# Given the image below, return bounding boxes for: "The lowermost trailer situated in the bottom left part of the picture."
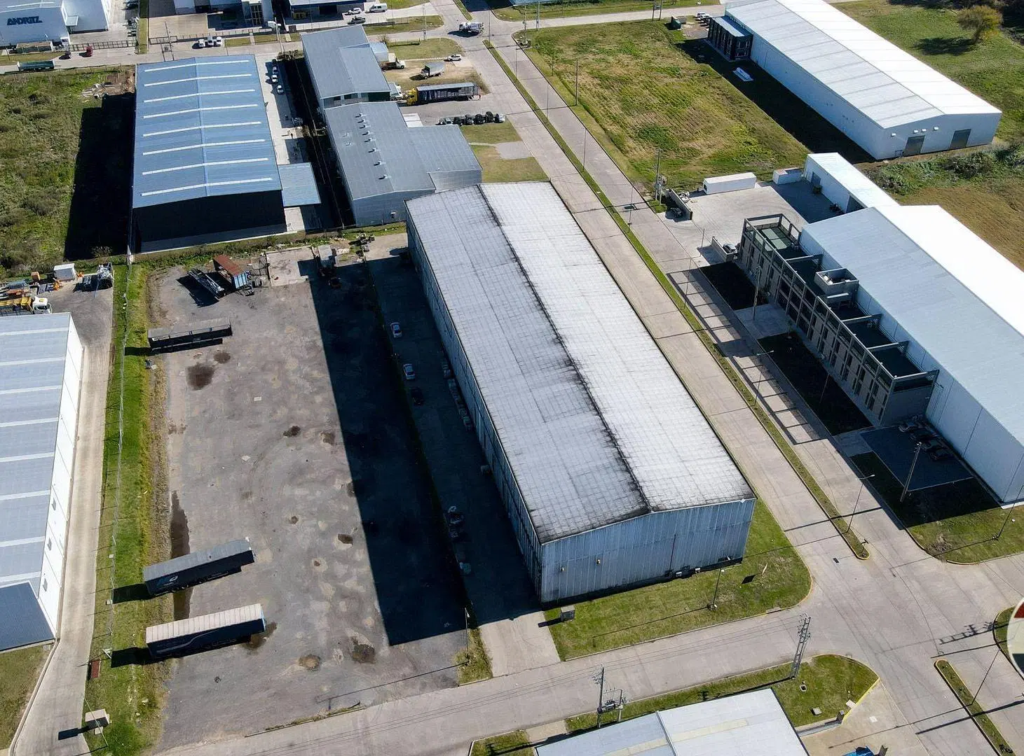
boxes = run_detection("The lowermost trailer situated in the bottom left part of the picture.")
[145,604,268,662]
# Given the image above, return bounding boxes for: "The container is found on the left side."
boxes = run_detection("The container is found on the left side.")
[215,261,248,292]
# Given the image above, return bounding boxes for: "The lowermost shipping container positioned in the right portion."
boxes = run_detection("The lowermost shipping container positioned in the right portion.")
[703,167,760,195]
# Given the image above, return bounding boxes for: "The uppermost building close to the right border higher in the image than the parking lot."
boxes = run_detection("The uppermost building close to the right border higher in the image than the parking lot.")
[681,0,1002,157]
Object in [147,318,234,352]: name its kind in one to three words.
trailer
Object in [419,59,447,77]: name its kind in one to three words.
vehicle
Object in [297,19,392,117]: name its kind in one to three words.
building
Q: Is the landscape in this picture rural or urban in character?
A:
urban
